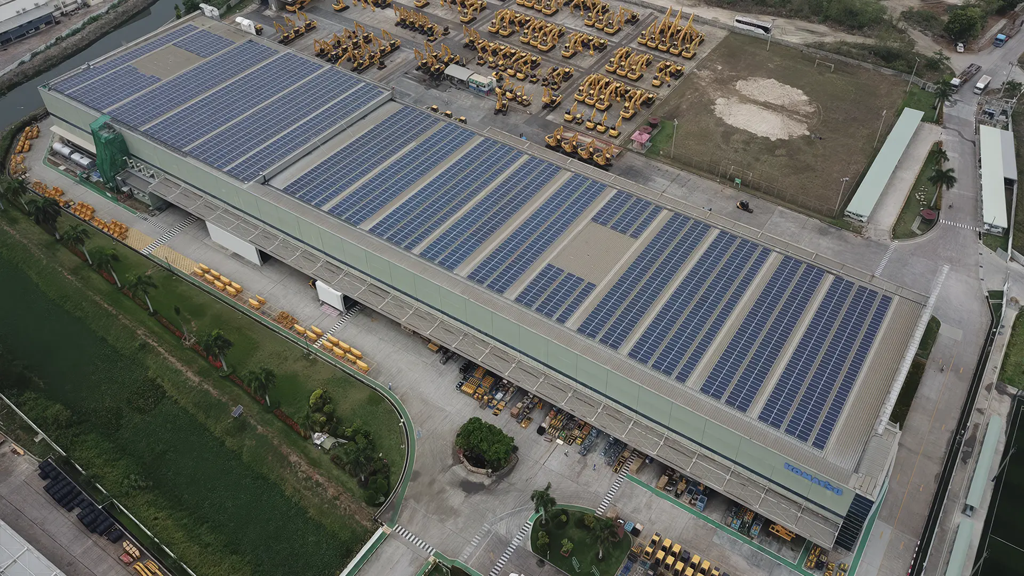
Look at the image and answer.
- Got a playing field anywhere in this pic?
Yes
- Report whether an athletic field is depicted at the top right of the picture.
Yes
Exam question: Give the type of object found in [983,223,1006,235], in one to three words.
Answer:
vehicle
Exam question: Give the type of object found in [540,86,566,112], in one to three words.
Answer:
work vehicle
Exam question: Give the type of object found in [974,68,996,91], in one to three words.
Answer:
truck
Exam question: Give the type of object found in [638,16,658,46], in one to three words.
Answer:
work vehicle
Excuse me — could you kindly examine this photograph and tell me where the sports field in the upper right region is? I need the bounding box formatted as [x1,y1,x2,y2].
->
[619,36,911,228]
